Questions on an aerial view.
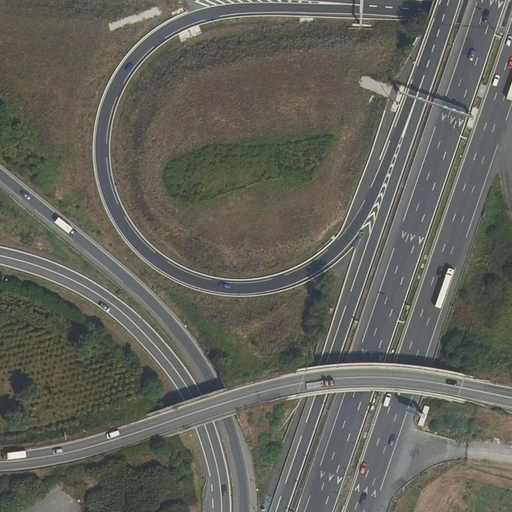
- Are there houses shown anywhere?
No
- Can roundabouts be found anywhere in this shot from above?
No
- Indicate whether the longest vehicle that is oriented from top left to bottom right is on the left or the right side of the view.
left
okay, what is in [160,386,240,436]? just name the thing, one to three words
overpass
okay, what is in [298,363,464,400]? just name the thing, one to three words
overpass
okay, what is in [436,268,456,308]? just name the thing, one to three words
vehicle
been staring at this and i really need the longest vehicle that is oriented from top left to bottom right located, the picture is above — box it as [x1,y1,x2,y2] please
[55,216,76,236]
